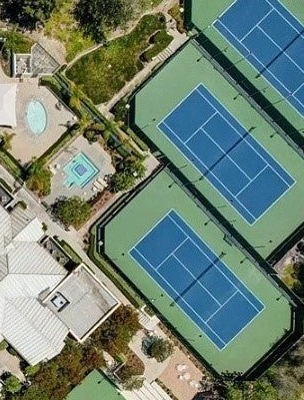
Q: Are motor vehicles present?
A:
No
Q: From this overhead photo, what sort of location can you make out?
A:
sports ground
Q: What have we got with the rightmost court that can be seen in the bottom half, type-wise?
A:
tennis court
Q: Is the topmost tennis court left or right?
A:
right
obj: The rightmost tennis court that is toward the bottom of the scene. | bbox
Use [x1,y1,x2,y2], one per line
[104,168,293,376]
